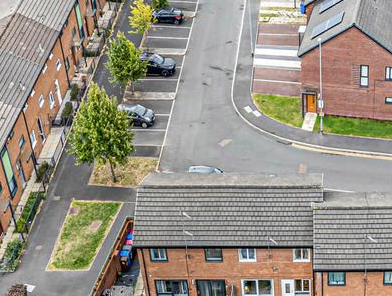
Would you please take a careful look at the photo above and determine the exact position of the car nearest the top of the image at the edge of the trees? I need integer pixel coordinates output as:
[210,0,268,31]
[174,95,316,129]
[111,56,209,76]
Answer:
[150,2,188,22]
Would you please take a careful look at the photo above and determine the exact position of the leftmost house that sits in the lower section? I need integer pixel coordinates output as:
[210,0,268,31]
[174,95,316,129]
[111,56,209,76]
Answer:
[132,172,318,296]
